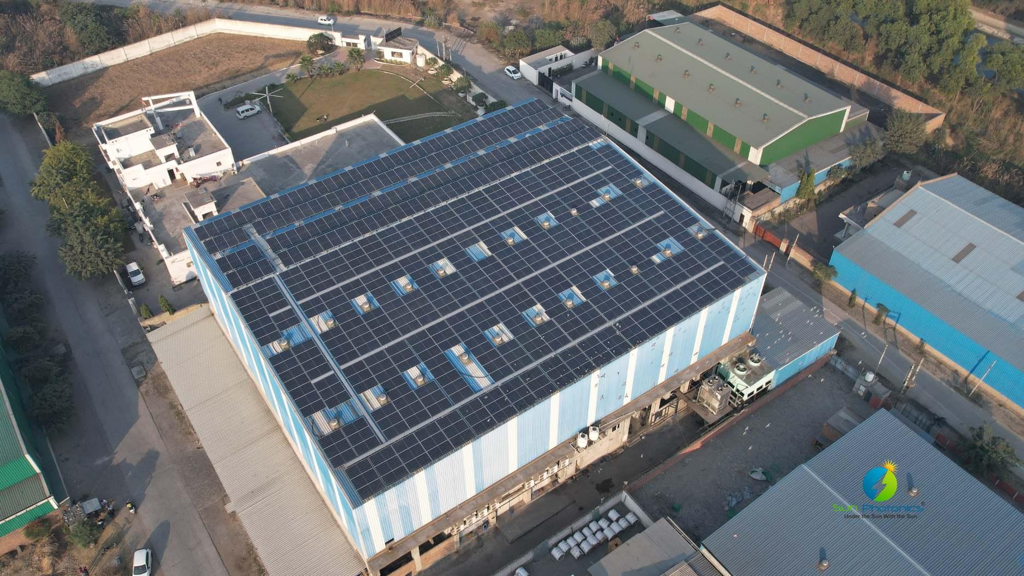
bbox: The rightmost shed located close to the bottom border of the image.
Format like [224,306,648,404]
[698,411,1024,576]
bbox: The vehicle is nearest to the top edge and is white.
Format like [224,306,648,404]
[315,14,336,27]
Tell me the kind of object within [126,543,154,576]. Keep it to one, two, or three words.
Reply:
car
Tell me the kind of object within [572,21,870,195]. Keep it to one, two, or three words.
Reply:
building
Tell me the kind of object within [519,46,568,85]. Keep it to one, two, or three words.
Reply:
house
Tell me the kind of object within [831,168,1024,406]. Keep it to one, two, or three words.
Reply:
shed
